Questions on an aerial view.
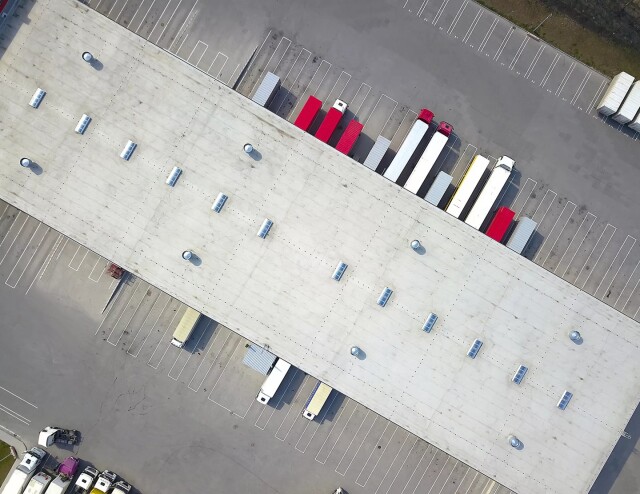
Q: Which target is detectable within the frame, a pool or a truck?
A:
truck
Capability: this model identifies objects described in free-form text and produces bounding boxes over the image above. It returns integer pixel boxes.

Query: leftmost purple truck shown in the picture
[60,455,83,477]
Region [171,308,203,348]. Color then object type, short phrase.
white truck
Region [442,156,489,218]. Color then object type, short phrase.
white trailer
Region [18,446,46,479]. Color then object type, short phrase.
white truck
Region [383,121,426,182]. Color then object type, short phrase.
white trailer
